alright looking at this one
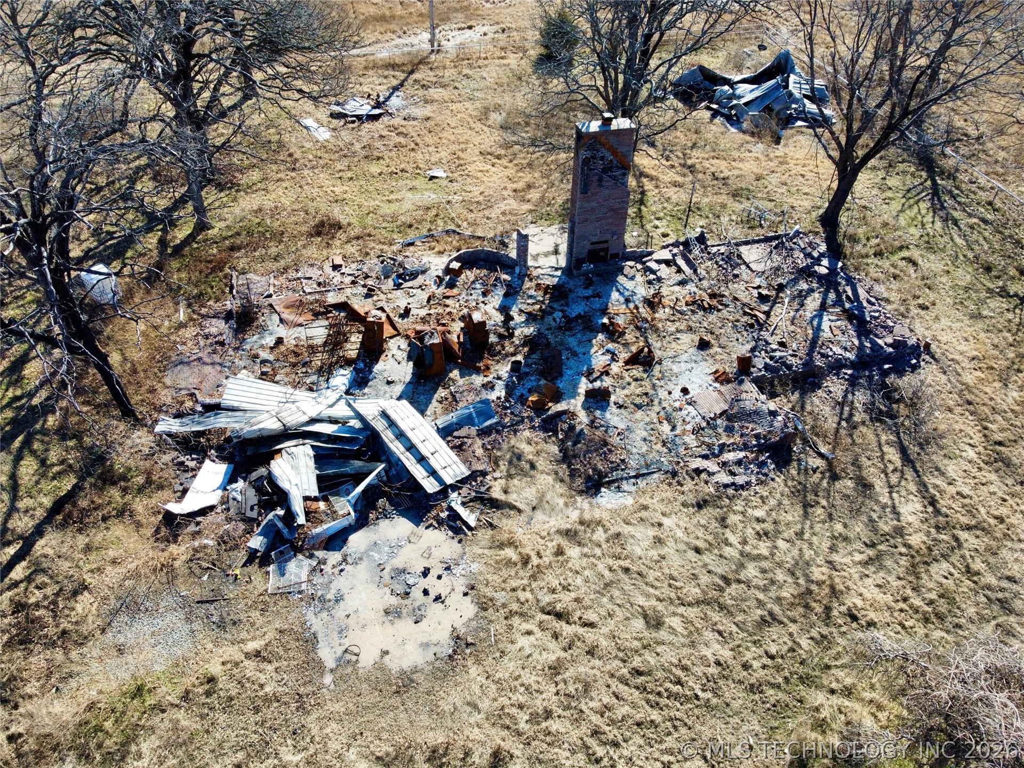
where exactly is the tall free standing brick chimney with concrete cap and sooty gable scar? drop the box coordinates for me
[557,109,637,275]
